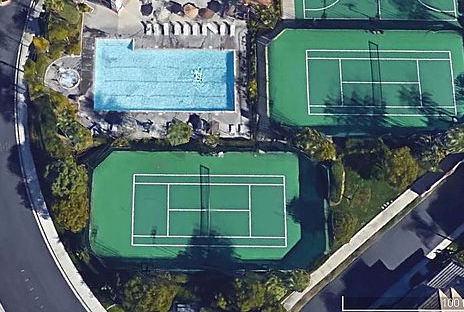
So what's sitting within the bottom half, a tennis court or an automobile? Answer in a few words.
tennis court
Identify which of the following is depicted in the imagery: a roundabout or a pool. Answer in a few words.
pool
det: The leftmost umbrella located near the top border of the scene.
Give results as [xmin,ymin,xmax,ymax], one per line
[155,6,172,20]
